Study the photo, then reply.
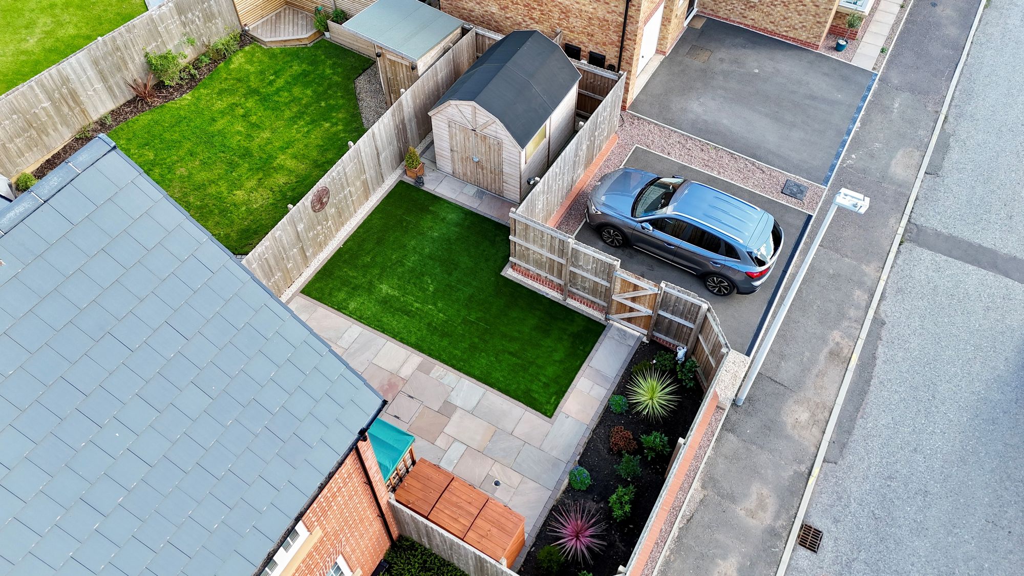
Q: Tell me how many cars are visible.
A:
1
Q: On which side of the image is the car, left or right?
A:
right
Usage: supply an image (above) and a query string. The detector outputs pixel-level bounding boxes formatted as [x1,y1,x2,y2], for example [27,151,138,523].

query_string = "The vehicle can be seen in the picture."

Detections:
[585,167,786,292]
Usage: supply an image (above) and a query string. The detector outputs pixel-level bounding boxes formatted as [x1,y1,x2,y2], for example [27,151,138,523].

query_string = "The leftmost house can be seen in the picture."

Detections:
[0,128,400,576]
